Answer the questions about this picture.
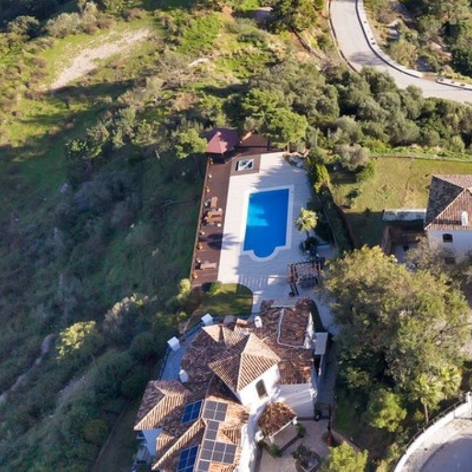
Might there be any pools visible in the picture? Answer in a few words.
Yes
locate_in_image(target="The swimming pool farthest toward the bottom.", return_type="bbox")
[240,185,294,262]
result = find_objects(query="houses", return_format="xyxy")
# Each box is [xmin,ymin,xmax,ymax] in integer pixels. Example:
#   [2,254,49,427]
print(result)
[411,174,472,273]
[131,298,327,472]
